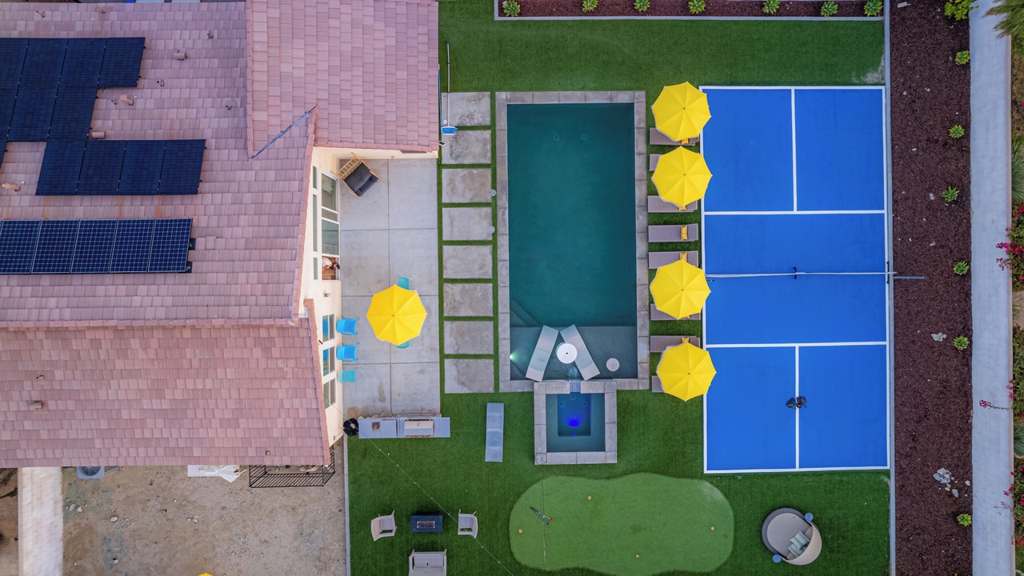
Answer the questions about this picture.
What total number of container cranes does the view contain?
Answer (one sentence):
The photo contains no container cranes.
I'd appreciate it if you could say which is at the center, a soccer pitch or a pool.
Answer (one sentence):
You can see a pool at the center.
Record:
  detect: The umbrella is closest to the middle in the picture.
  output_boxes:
[367,284,430,346]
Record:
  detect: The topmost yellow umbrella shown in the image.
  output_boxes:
[650,82,712,144]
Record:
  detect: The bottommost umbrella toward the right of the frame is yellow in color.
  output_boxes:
[653,341,716,403]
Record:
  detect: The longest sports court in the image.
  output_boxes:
[700,86,890,473]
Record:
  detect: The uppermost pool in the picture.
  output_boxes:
[496,91,649,392]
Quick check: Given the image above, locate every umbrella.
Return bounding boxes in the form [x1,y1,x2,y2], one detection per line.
[650,82,712,144]
[653,341,716,403]
[649,259,712,322]
[652,146,714,208]
[367,284,430,346]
